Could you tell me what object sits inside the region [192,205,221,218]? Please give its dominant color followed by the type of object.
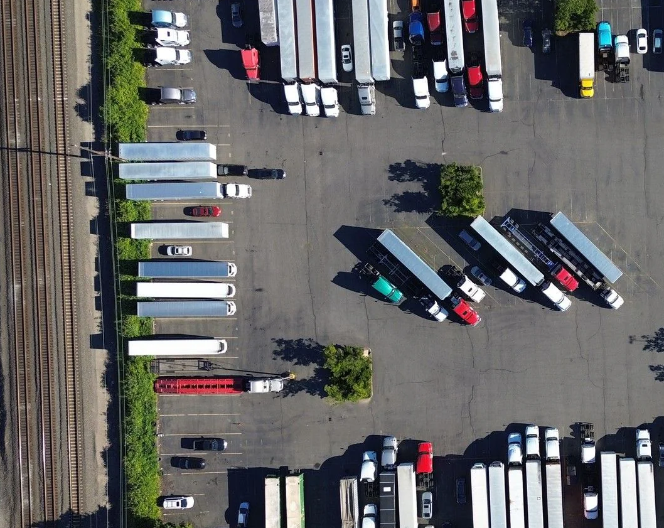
red vehicle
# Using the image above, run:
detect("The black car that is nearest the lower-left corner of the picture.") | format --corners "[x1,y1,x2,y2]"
[174,456,206,469]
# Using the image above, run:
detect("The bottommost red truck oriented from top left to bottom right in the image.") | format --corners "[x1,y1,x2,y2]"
[446,293,482,328]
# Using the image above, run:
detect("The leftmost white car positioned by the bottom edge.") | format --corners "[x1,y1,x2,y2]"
[162,495,194,509]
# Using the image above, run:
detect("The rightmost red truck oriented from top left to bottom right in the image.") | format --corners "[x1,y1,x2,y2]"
[539,254,578,293]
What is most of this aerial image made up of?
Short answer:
paved ground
